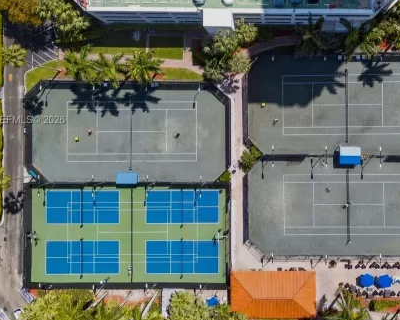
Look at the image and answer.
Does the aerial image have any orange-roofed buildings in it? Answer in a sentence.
Yes, this view includes an orange-roofed building.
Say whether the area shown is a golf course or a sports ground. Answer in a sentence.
The picture captures a sports ground.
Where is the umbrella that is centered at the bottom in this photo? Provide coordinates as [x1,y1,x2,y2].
[205,294,219,308]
